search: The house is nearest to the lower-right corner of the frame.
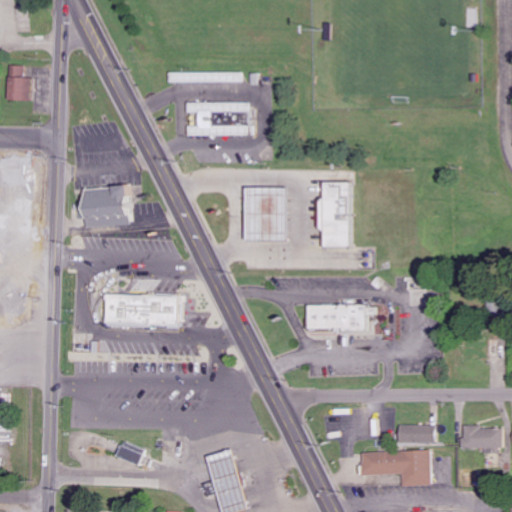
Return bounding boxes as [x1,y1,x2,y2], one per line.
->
[460,425,502,450]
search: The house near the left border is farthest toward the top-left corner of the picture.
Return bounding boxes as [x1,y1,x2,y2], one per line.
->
[6,65,36,102]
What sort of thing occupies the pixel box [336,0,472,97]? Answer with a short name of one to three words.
sports field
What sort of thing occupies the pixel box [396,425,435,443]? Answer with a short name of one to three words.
house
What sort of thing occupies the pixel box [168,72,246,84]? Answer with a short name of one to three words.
shed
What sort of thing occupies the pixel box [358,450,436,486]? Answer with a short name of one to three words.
building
